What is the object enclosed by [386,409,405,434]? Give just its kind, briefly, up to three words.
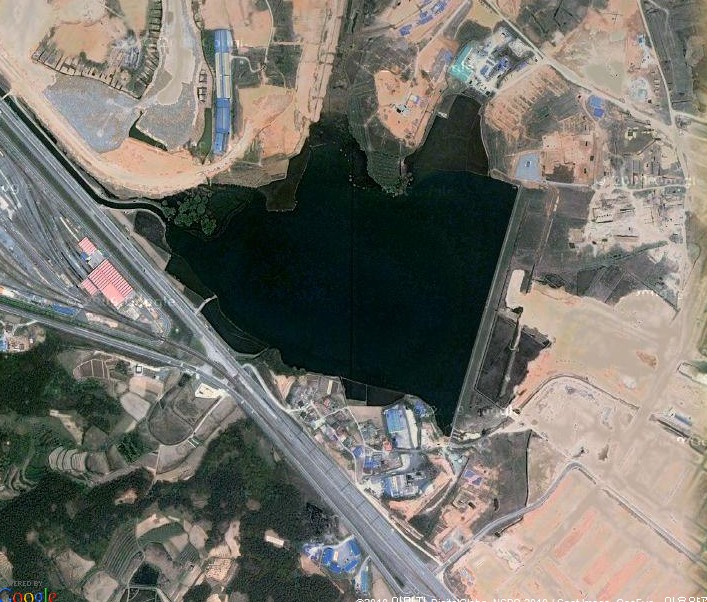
building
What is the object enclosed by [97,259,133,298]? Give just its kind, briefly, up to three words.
building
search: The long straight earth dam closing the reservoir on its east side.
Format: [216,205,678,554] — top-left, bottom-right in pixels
[450,184,531,439]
